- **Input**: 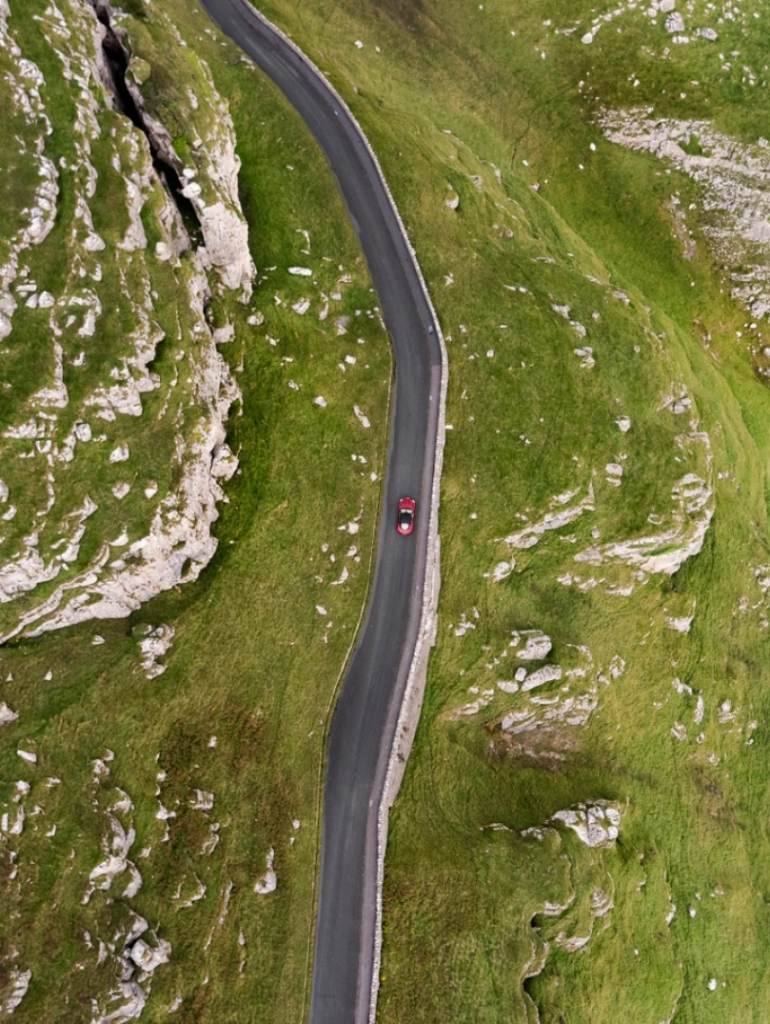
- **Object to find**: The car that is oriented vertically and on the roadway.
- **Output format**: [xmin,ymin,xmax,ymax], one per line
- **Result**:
[397,496,416,536]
